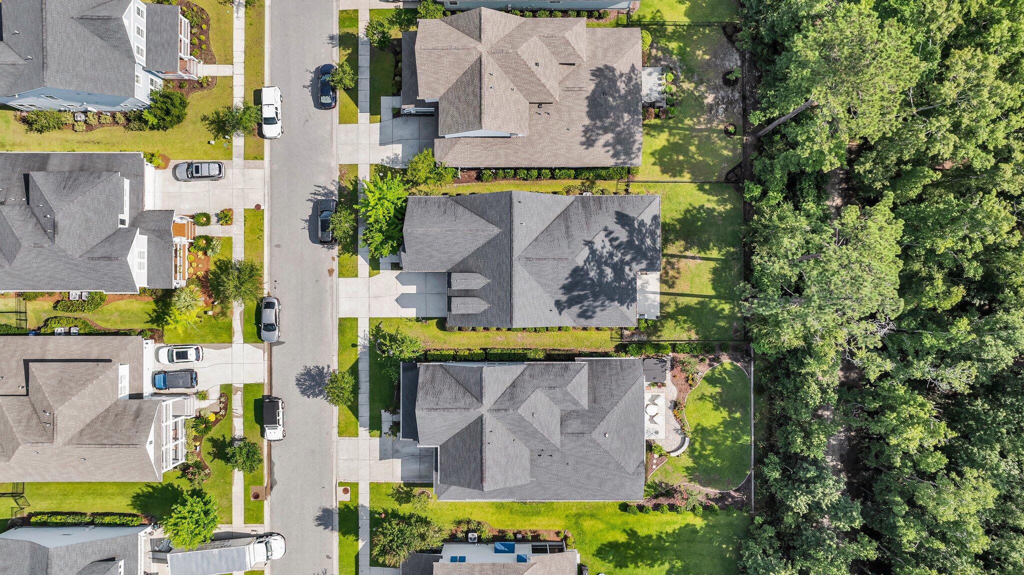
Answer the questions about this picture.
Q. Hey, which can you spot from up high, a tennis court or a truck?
truck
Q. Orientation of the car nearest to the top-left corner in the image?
from left to right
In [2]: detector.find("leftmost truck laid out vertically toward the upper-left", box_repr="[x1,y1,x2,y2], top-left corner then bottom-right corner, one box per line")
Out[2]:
[261,84,283,140]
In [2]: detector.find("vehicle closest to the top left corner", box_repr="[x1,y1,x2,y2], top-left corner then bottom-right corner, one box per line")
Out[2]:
[175,158,225,180]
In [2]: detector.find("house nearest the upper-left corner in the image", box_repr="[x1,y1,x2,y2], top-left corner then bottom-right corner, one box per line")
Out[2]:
[0,0,195,111]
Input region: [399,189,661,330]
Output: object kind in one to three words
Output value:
house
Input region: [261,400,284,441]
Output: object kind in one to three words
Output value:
car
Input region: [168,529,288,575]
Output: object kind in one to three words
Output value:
truck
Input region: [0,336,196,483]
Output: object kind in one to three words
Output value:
house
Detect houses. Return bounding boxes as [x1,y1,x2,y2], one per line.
[0,523,159,575]
[0,0,195,111]
[399,542,580,575]
[401,6,645,168]
[399,189,661,330]
[0,152,195,293]
[0,336,196,483]
[400,357,647,501]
